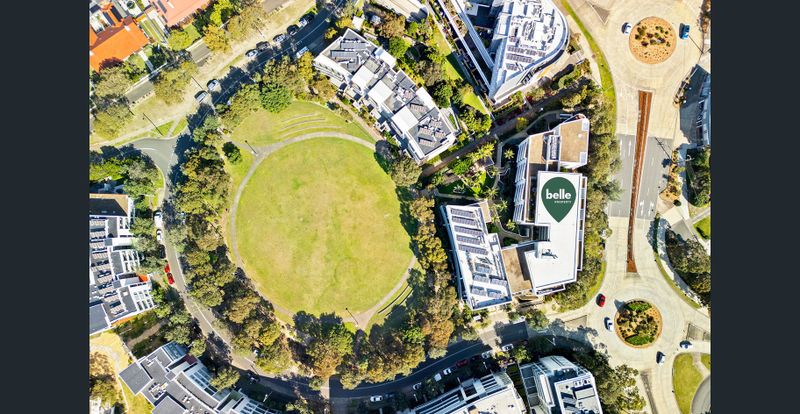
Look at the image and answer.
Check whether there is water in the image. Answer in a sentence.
No, no water is visible.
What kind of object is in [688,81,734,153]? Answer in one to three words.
building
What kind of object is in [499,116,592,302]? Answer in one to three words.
building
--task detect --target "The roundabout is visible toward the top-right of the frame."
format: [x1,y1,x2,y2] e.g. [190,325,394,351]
[629,16,676,63]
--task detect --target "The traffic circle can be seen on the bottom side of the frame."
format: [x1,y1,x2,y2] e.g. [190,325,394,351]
[616,302,661,348]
